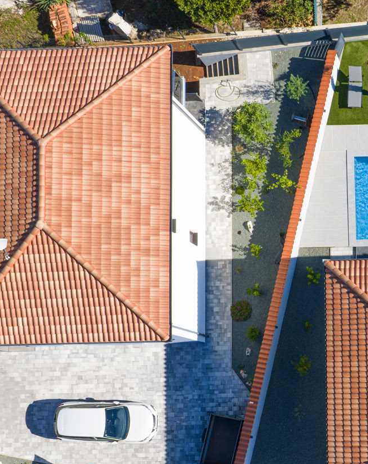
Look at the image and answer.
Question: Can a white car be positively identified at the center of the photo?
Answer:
No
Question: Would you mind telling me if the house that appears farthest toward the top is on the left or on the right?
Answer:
left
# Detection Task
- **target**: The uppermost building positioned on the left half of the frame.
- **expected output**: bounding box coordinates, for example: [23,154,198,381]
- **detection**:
[0,41,208,347]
